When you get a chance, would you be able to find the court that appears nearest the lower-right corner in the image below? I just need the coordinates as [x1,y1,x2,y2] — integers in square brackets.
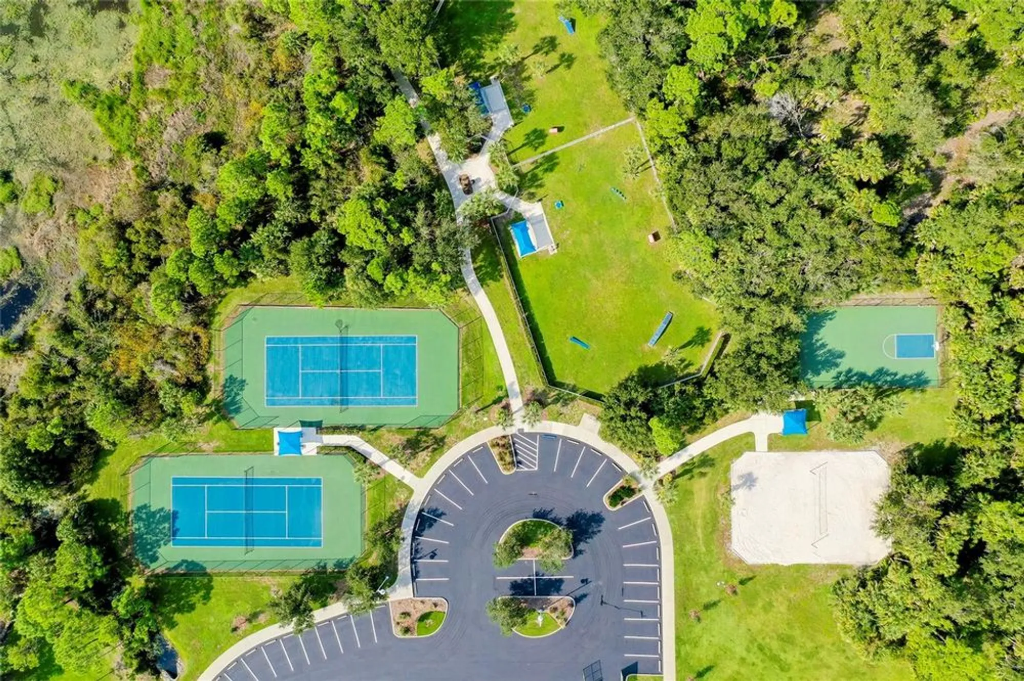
[730,450,891,566]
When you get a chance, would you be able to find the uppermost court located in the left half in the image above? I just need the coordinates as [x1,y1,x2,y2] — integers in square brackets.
[224,307,458,428]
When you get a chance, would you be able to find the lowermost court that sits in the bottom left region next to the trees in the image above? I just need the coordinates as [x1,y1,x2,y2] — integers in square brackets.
[132,455,362,572]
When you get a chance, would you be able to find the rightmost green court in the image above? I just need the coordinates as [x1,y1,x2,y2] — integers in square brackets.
[797,306,939,388]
